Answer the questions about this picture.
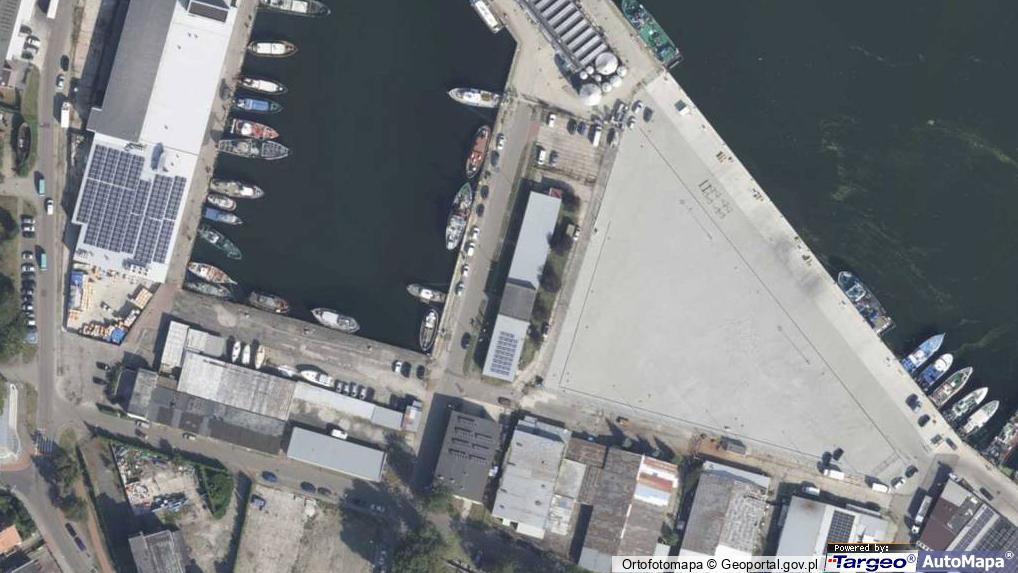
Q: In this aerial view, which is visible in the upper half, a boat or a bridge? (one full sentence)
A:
What appears in the upper half is a boat.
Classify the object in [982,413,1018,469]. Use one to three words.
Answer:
ship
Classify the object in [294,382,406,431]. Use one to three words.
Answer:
shed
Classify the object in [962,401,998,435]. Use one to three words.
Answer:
boat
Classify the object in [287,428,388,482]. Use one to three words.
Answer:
building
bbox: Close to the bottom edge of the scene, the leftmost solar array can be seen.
[828,511,855,545]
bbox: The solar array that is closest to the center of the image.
[491,330,521,374]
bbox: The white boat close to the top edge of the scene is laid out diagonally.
[467,0,502,33]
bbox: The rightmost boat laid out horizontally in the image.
[448,87,502,107]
